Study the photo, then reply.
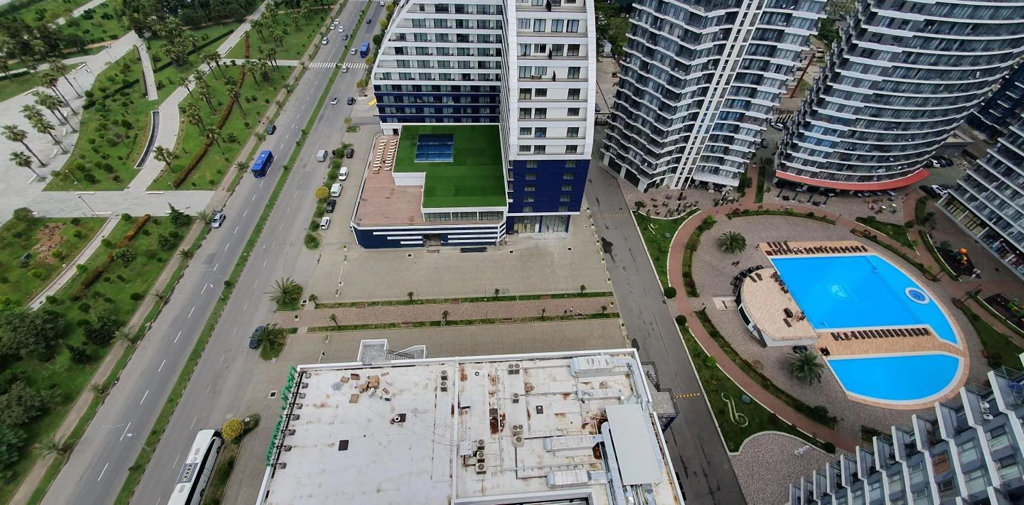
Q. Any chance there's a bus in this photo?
Yes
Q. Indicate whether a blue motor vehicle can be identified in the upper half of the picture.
Yes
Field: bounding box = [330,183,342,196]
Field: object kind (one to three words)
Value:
vehicle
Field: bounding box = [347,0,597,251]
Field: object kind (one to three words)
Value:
building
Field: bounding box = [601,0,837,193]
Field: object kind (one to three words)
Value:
building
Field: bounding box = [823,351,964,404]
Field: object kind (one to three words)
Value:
swimming pool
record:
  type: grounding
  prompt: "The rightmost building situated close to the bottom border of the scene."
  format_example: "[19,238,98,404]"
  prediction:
[794,353,1024,505]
